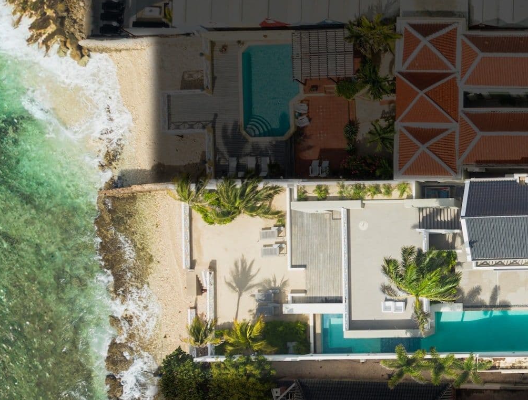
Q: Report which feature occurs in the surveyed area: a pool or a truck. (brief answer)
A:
pool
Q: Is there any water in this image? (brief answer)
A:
Yes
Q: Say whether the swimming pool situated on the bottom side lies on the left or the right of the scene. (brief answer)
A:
right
